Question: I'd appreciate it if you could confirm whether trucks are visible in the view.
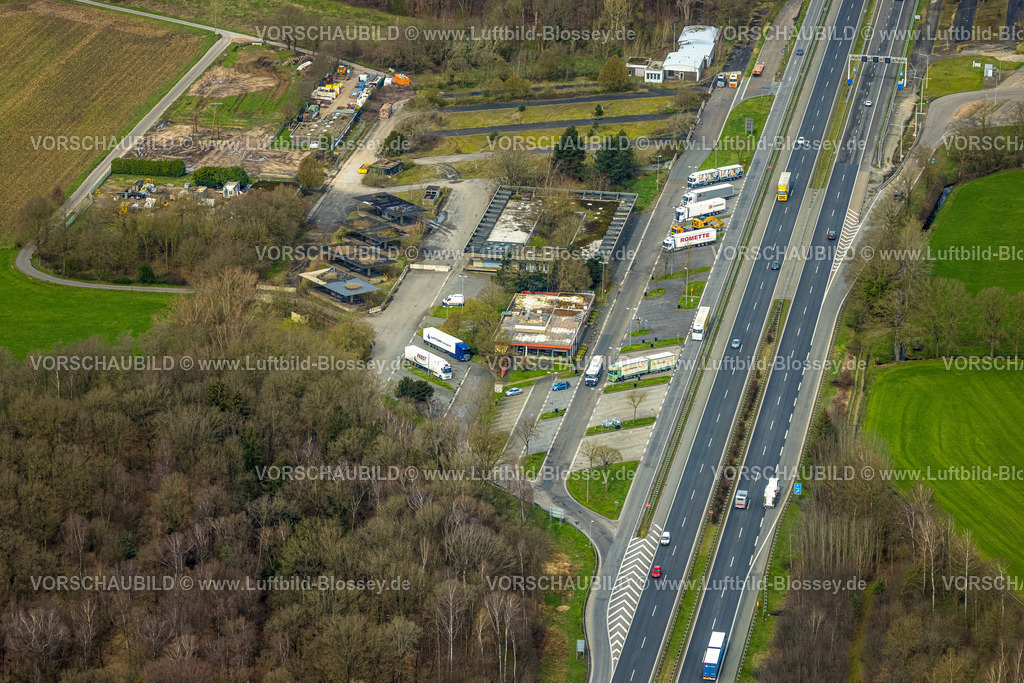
Yes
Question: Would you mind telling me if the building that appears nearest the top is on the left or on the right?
right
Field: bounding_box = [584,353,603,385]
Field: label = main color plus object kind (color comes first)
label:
white vehicle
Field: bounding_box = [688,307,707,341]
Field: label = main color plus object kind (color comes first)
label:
white vehicle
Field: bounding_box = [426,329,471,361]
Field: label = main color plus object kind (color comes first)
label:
white truck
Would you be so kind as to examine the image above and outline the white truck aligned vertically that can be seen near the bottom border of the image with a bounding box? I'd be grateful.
[698,633,722,680]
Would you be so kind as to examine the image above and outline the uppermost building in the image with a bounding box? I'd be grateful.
[625,25,718,83]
